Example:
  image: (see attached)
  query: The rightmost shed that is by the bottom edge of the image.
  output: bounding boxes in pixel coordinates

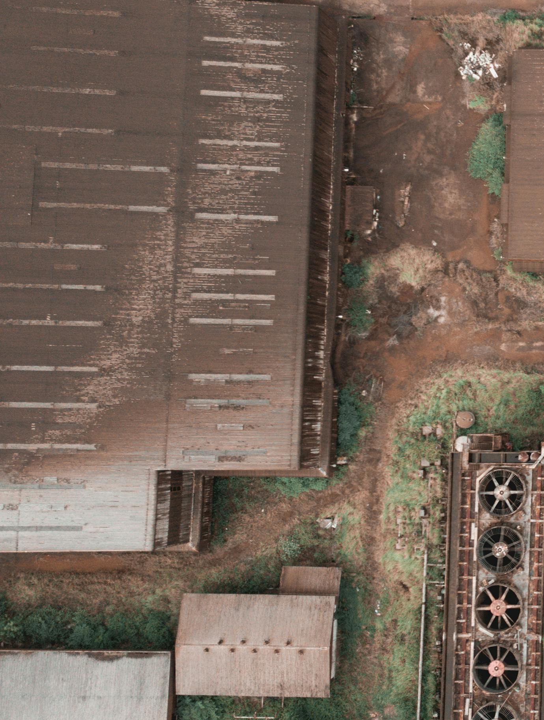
[175,563,348,699]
